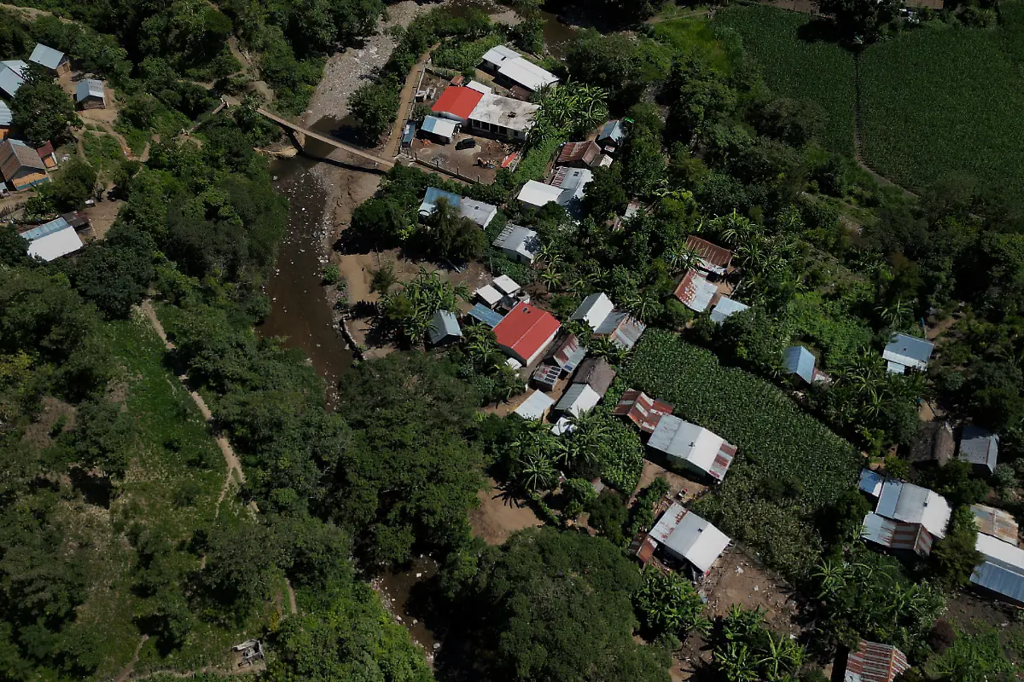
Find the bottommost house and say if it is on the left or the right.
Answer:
right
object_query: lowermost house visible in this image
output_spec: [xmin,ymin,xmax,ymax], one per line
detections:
[845,640,908,682]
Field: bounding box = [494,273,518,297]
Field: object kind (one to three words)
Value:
shed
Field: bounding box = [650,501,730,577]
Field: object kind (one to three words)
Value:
house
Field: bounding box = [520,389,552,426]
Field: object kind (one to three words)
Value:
shed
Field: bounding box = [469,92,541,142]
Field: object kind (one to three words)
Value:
building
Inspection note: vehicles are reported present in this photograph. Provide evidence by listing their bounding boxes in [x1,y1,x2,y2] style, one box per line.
[454,137,476,150]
